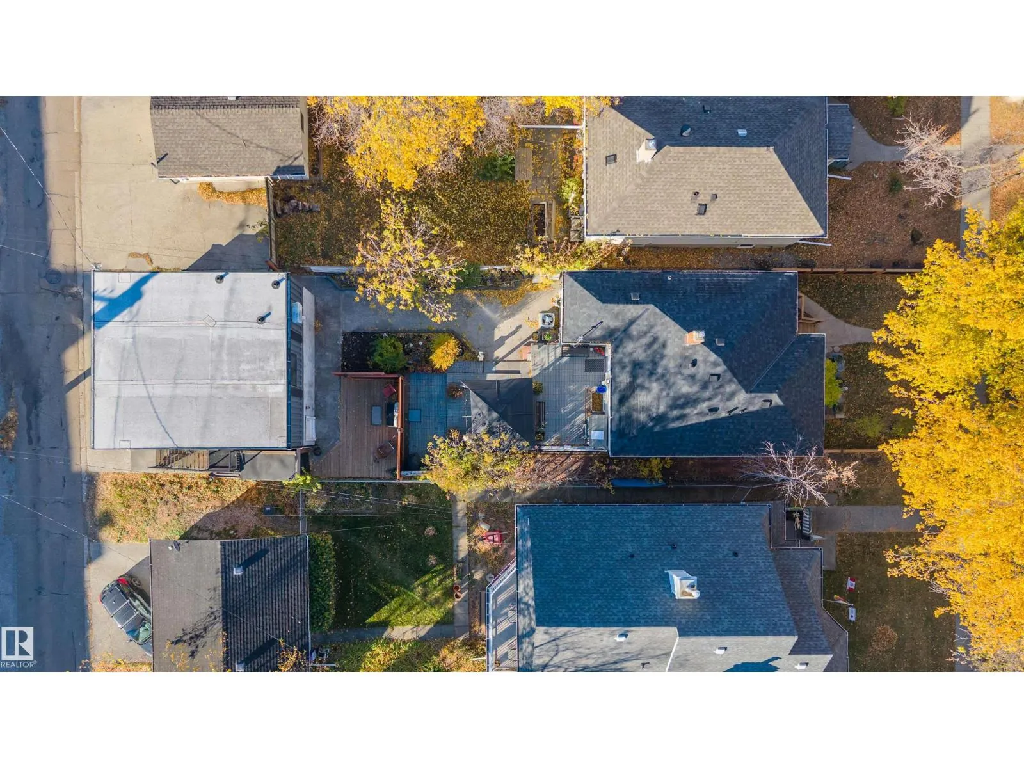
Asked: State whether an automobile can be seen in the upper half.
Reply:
No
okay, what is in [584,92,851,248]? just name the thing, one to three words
house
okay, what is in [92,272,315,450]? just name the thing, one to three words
building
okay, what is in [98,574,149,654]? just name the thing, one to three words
car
